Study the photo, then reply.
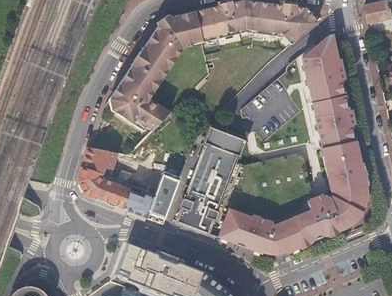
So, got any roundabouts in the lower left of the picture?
Yes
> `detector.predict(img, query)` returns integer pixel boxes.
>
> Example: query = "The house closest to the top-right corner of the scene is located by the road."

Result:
[364,0,392,26]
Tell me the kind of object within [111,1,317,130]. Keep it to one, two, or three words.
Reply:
building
